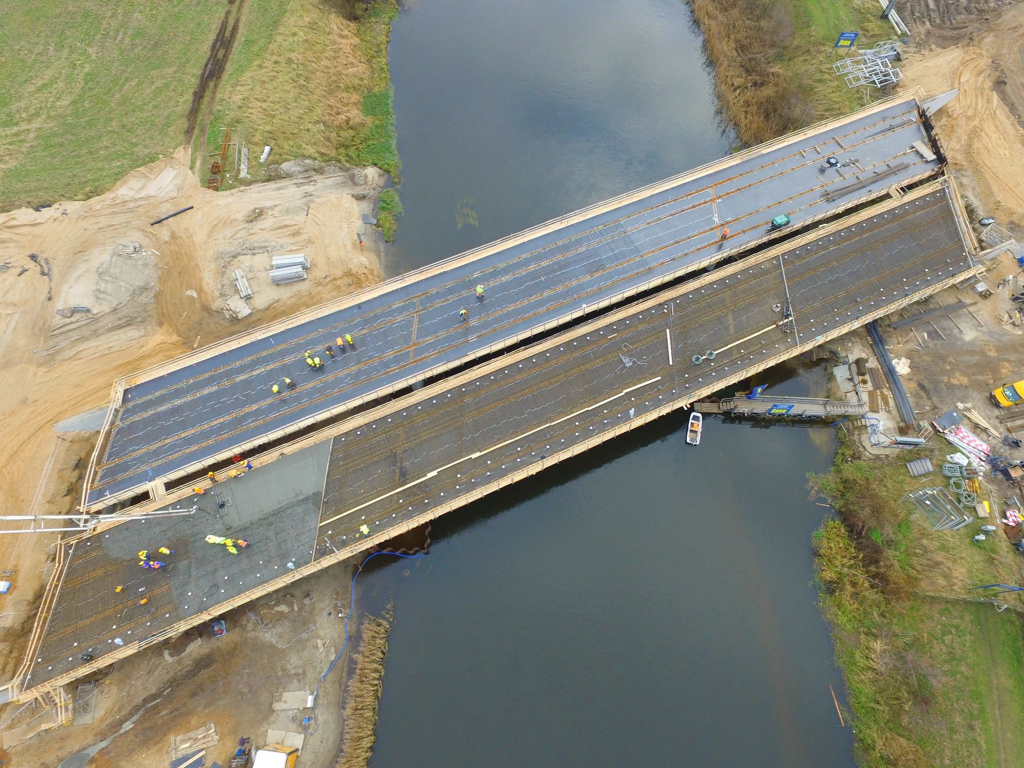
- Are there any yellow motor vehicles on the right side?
Yes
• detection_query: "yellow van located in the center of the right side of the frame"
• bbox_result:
[989,382,1024,412]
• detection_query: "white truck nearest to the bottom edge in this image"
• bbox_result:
[252,736,296,768]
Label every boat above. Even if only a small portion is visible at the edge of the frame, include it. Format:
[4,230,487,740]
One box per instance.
[685,411,703,449]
